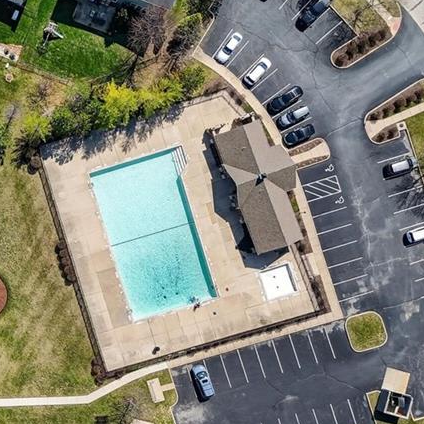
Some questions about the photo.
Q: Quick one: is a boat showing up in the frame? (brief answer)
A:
No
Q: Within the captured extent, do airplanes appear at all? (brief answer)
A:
No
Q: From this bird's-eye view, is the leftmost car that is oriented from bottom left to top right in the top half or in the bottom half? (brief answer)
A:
top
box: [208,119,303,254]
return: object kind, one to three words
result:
building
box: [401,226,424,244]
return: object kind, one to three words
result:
car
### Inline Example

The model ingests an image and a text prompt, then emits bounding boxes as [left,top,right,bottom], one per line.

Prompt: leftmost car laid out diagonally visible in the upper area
[219,31,244,62]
